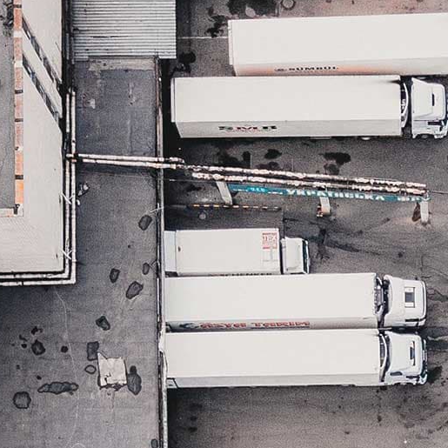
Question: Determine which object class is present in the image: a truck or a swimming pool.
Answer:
truck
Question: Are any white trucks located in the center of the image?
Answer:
Yes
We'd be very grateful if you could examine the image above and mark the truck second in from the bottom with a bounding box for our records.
[165,273,428,334]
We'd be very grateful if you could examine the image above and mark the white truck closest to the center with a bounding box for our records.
[164,228,310,277]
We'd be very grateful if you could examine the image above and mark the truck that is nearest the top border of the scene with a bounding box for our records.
[228,13,448,82]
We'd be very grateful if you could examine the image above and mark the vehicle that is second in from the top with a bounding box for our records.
[170,76,448,145]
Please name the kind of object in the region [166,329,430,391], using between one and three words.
truck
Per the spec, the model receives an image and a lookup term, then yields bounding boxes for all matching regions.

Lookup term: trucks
[164,228,310,277]
[165,273,428,334]
[170,76,448,145]
[166,329,430,391]
[228,13,448,82]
